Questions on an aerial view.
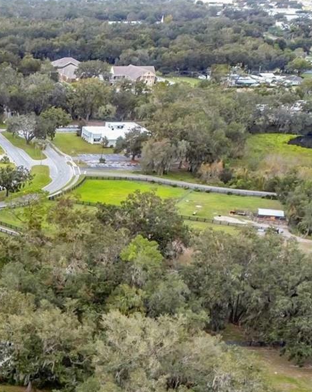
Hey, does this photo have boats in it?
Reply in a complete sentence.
No, I can see no boat in this picture.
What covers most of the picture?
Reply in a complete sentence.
For the most part, this view shows trees.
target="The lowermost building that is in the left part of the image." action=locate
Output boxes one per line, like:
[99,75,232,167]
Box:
[83,117,151,147]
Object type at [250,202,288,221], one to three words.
shed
